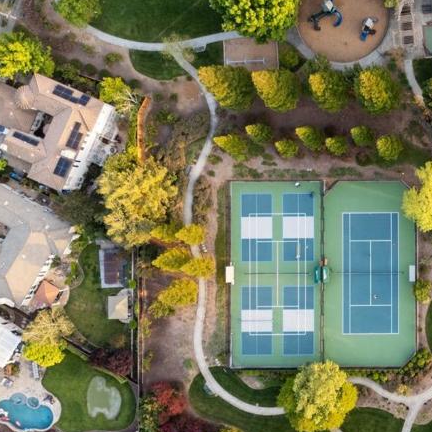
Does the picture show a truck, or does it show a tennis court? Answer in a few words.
tennis court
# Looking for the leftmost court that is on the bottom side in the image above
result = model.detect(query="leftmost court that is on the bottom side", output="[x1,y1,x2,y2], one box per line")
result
[229,180,322,368]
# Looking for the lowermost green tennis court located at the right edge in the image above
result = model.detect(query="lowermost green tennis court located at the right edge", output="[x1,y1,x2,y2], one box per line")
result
[324,182,414,368]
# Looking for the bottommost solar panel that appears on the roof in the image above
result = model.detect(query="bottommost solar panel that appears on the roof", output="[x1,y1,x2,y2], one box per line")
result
[53,156,72,178]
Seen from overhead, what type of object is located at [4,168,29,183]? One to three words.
car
